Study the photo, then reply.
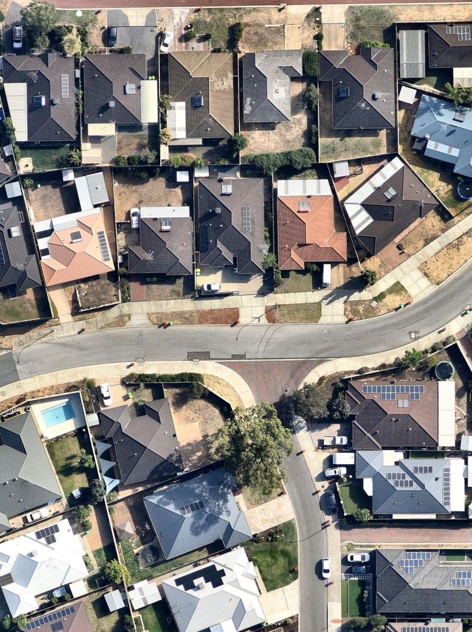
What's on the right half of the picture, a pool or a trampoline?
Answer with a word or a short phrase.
trampoline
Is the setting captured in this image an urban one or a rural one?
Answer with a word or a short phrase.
urban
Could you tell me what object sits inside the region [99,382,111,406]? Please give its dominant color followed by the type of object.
white vehicle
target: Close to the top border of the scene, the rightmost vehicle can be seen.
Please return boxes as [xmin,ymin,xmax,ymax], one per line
[160,31,173,52]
